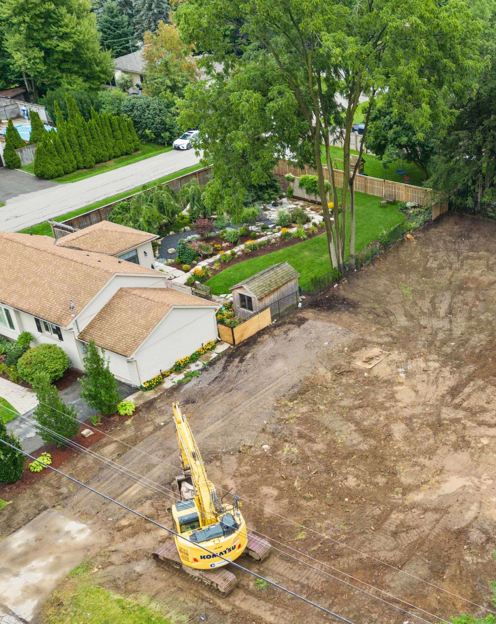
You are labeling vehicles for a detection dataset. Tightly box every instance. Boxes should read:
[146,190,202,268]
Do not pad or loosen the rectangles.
[154,397,270,595]
[171,133,207,150]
